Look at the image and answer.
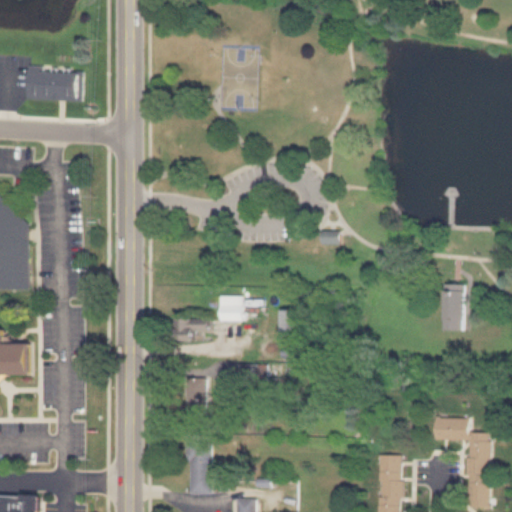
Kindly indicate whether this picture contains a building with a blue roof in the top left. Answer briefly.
No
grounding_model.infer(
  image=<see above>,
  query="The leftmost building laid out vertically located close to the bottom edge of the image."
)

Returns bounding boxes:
[379,455,407,512]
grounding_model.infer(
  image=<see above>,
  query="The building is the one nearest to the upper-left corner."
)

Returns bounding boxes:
[22,65,89,102]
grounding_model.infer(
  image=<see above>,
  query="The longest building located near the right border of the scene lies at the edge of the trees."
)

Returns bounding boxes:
[468,433,492,510]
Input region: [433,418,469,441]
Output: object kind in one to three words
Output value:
building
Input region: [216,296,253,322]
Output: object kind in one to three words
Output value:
barn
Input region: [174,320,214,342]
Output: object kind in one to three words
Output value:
house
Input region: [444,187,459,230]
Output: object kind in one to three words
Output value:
pier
